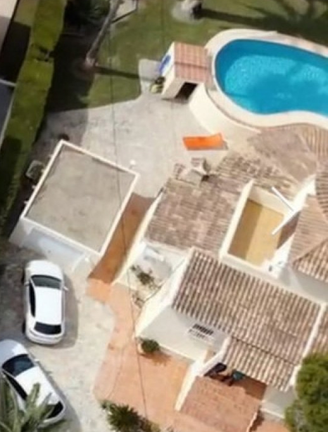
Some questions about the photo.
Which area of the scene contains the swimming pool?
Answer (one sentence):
The swimming pool sits in the top right section of the image.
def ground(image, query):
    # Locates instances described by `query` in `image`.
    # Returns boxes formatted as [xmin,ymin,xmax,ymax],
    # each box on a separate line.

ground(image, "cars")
[23,259,71,345]
[0,344,69,432]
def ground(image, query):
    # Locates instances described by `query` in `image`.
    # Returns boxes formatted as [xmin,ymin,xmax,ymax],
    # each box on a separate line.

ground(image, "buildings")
[159,43,209,102]
[11,142,139,280]
[133,123,328,386]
